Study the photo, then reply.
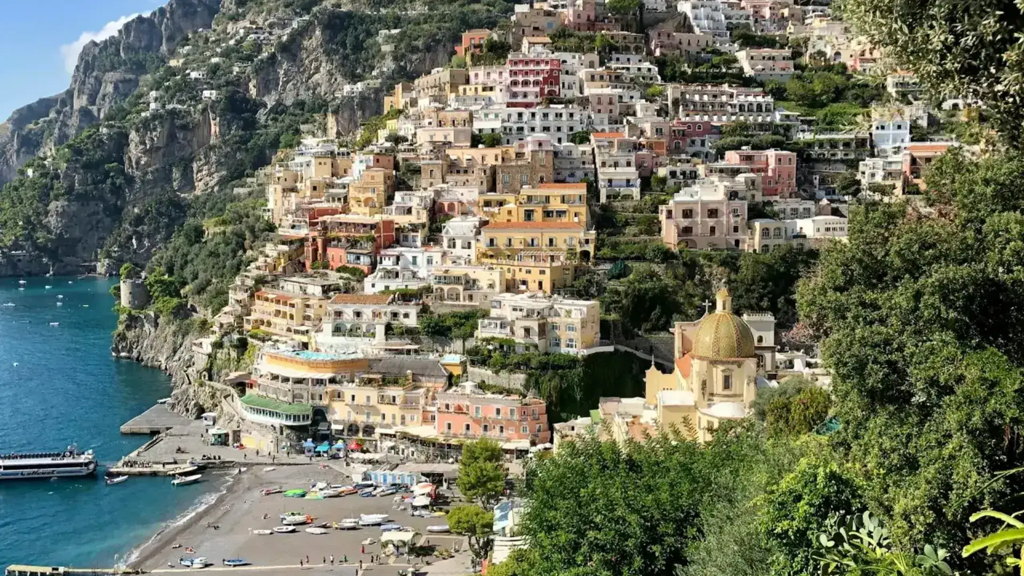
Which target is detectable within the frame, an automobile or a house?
house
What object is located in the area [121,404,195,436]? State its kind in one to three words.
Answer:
pier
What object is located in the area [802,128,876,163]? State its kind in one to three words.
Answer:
house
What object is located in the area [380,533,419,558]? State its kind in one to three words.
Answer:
building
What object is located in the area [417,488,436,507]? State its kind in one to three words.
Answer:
umbrella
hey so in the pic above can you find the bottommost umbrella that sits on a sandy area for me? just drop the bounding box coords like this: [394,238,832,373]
[402,556,422,575]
